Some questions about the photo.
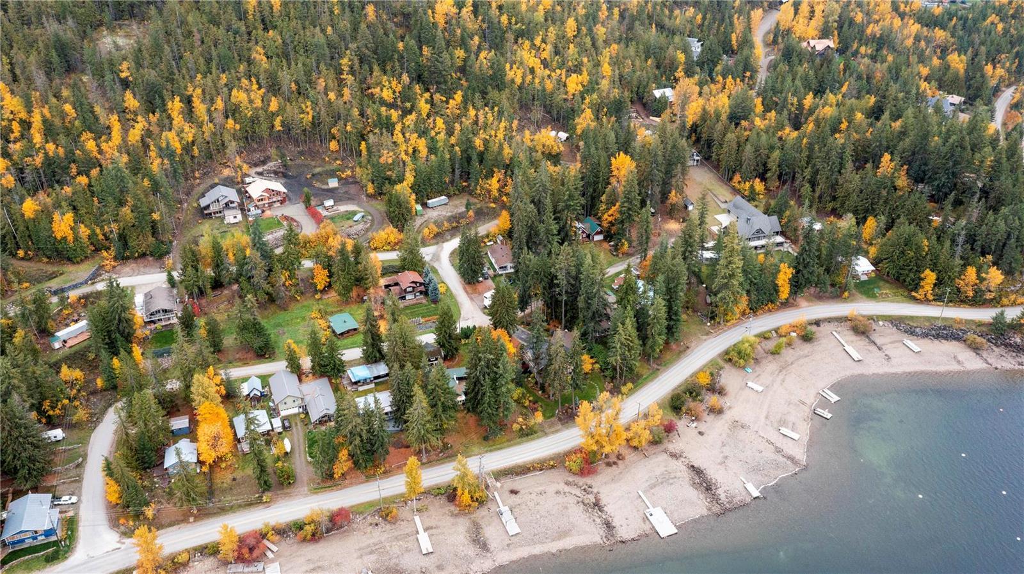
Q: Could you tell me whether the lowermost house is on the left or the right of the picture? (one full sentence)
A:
You can find the lowermost house on the left side of the picture.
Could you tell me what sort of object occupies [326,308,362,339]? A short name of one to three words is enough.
building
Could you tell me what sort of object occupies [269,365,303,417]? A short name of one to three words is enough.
building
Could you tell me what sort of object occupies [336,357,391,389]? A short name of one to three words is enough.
house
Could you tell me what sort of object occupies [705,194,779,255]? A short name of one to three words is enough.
house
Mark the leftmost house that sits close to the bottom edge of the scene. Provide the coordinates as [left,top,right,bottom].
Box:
[0,486,66,561]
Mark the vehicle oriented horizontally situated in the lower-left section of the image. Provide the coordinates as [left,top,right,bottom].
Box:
[54,493,78,506]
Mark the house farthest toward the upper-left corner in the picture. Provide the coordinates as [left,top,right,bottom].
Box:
[196,176,242,222]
